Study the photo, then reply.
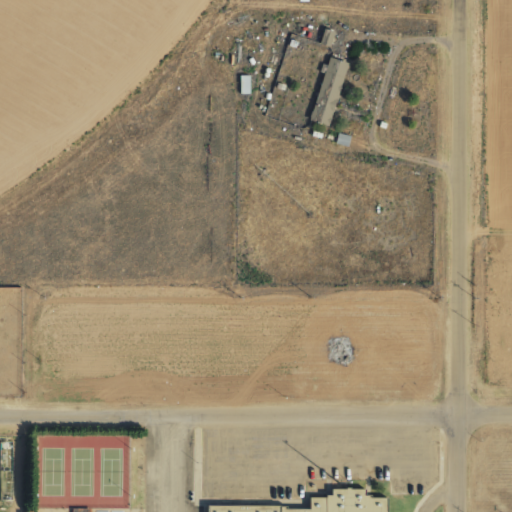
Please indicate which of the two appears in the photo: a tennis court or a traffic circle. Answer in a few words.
tennis court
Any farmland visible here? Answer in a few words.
Yes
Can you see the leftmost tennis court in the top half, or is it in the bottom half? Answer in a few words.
bottom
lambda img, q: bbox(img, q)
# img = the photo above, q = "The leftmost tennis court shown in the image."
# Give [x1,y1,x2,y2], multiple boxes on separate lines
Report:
[38,436,68,508]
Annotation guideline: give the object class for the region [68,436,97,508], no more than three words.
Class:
tennis court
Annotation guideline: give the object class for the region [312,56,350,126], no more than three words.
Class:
house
